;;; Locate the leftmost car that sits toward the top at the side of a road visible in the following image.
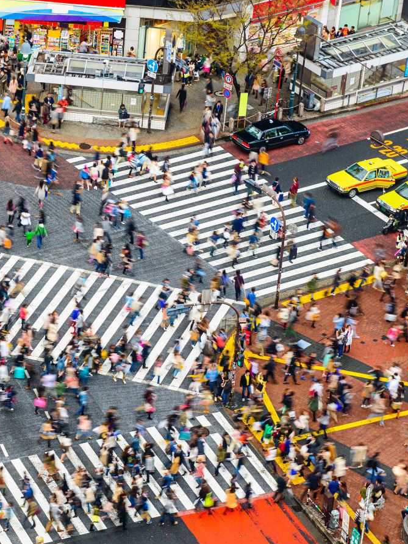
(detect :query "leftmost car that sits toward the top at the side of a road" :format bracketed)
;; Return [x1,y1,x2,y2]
[237,110,317,150]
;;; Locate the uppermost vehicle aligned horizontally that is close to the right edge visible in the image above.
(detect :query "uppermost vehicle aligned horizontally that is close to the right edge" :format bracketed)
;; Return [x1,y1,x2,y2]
[331,150,408,194]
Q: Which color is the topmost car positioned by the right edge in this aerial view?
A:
yellow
